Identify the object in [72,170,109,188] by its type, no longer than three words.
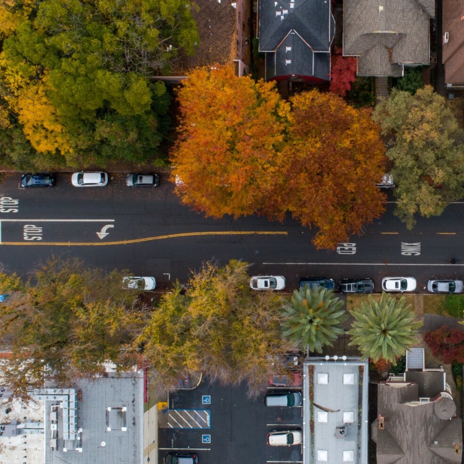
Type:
car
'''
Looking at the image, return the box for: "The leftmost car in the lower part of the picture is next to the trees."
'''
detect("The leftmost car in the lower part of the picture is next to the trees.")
[121,275,159,291]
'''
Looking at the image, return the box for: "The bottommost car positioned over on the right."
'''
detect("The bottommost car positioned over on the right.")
[267,429,303,448]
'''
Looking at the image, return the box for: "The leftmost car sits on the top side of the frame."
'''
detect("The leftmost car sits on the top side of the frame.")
[22,172,55,189]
